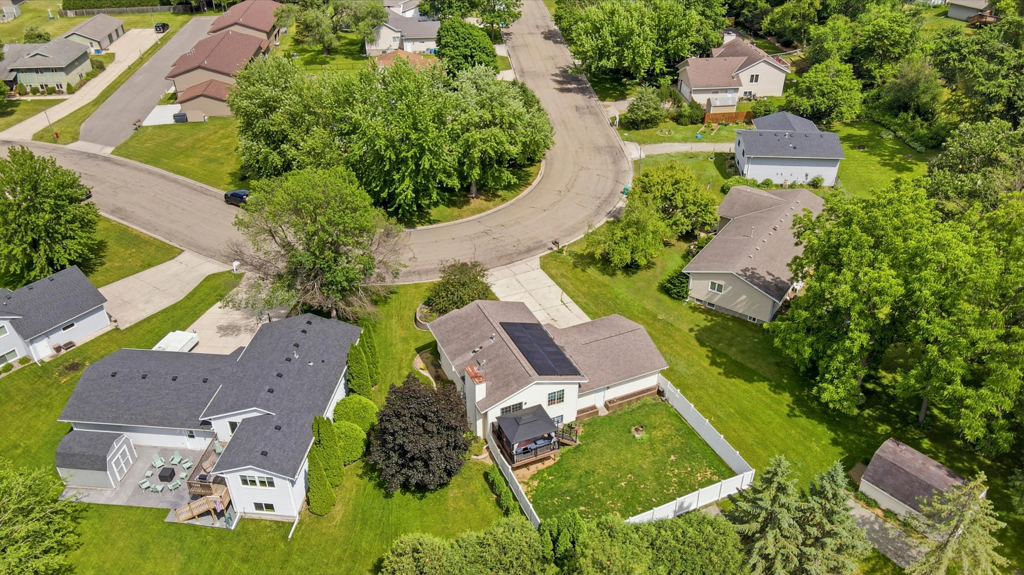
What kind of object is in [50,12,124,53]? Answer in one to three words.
building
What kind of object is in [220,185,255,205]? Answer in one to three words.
car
